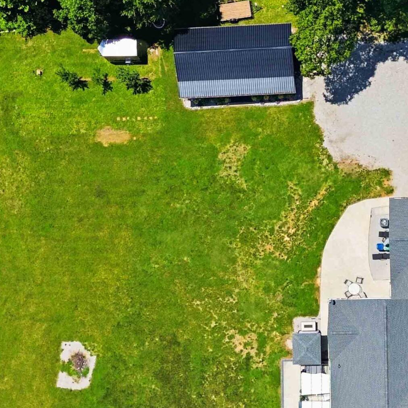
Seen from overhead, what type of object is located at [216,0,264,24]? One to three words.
trailer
